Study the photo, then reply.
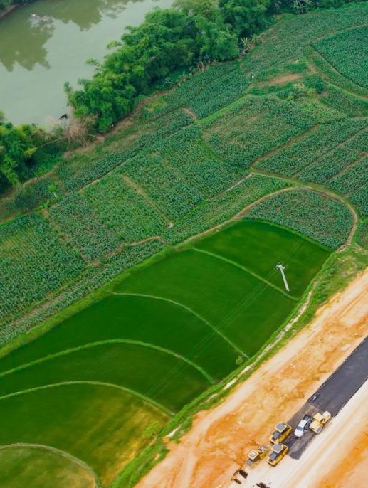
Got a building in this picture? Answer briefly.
No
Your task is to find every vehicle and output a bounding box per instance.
[308,410,331,436]
[246,441,271,468]
[269,420,294,444]
[290,414,314,438]
[266,439,291,466]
